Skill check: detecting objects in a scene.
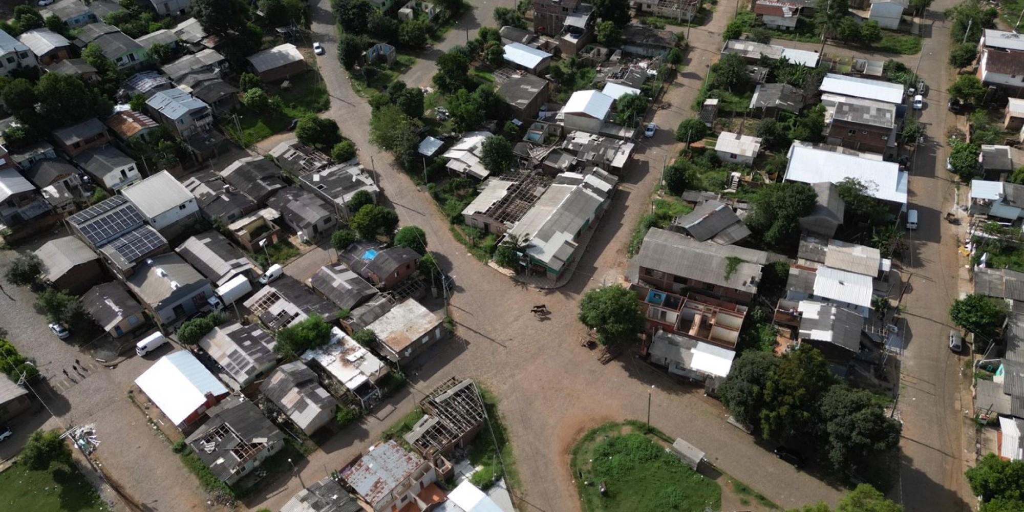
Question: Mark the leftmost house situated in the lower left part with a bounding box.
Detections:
[0,371,32,419]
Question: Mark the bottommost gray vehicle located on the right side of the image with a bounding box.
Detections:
[949,329,964,351]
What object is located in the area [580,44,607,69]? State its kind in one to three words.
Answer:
house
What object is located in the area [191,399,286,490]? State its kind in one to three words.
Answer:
house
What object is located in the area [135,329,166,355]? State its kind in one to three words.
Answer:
vehicle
